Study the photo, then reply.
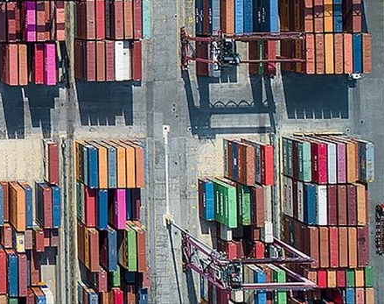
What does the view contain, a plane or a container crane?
container crane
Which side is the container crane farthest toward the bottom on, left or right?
right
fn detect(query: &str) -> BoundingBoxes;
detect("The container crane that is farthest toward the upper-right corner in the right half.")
[182,26,316,68]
